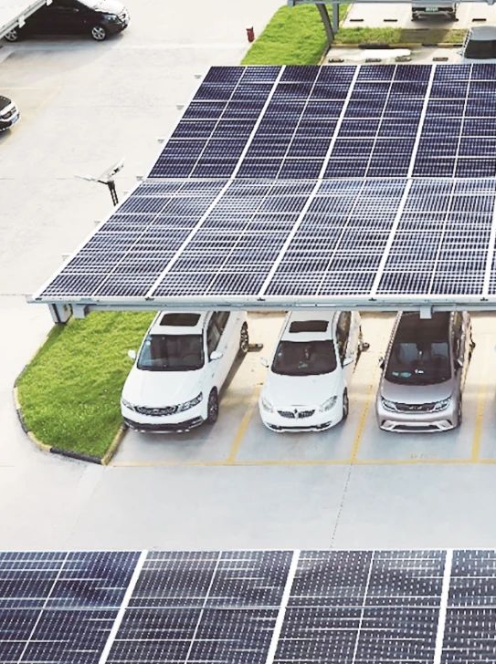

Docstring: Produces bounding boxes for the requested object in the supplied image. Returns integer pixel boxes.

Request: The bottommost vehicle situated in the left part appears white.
[117,313,247,435]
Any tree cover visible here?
No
